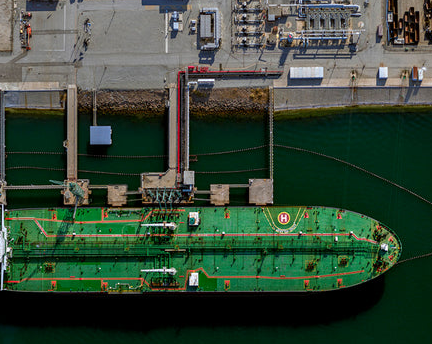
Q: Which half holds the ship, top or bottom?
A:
bottom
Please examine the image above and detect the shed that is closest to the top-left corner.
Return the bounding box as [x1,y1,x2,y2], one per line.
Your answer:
[90,125,113,145]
